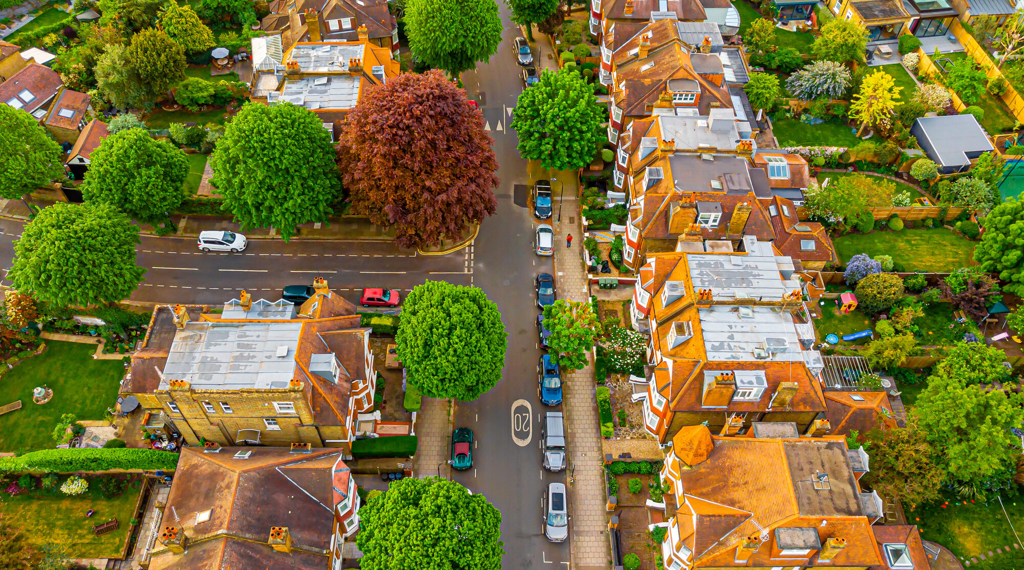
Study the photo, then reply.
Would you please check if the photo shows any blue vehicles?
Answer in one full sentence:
Yes, the photo shows a blue vehicle.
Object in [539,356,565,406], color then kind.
blue car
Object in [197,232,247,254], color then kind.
white car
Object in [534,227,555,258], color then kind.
white car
